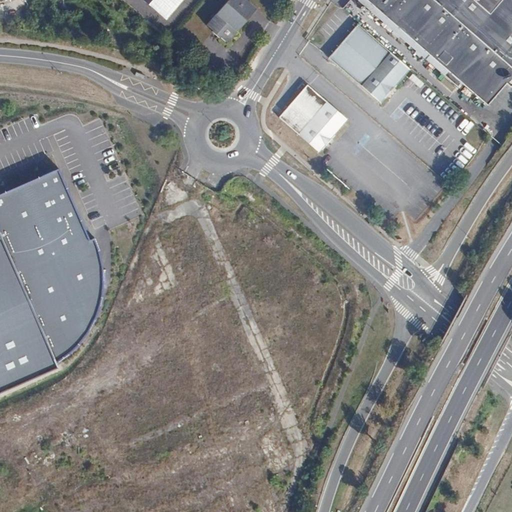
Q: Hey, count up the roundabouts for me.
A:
1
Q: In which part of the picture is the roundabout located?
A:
top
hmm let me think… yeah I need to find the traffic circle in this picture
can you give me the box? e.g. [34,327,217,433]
[190,102,256,168]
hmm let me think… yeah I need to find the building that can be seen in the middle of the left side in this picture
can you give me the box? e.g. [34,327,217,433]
[0,170,105,390]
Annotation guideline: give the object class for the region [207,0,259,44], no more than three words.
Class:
house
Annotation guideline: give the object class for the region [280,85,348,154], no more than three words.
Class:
building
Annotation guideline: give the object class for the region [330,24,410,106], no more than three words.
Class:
building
